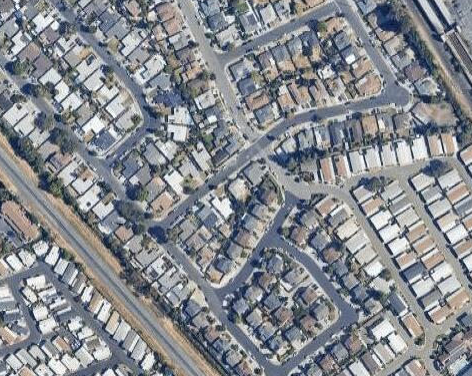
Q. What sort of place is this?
residential area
